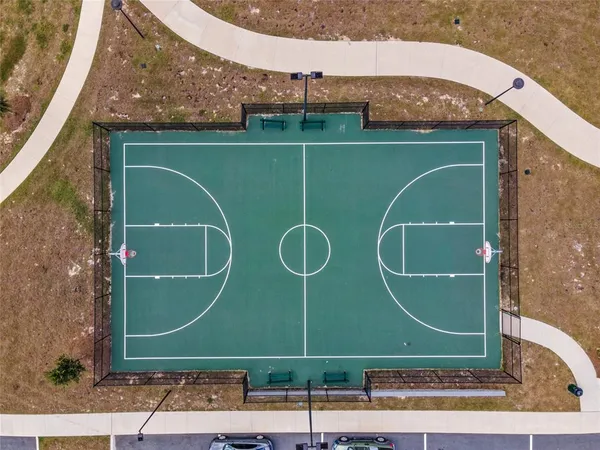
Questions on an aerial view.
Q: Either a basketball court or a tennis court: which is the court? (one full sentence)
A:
It looks like the court is a basketball court.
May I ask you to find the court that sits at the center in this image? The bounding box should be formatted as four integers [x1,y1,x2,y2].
[109,112,502,389]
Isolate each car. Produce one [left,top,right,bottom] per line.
[210,435,275,450]
[330,436,397,450]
